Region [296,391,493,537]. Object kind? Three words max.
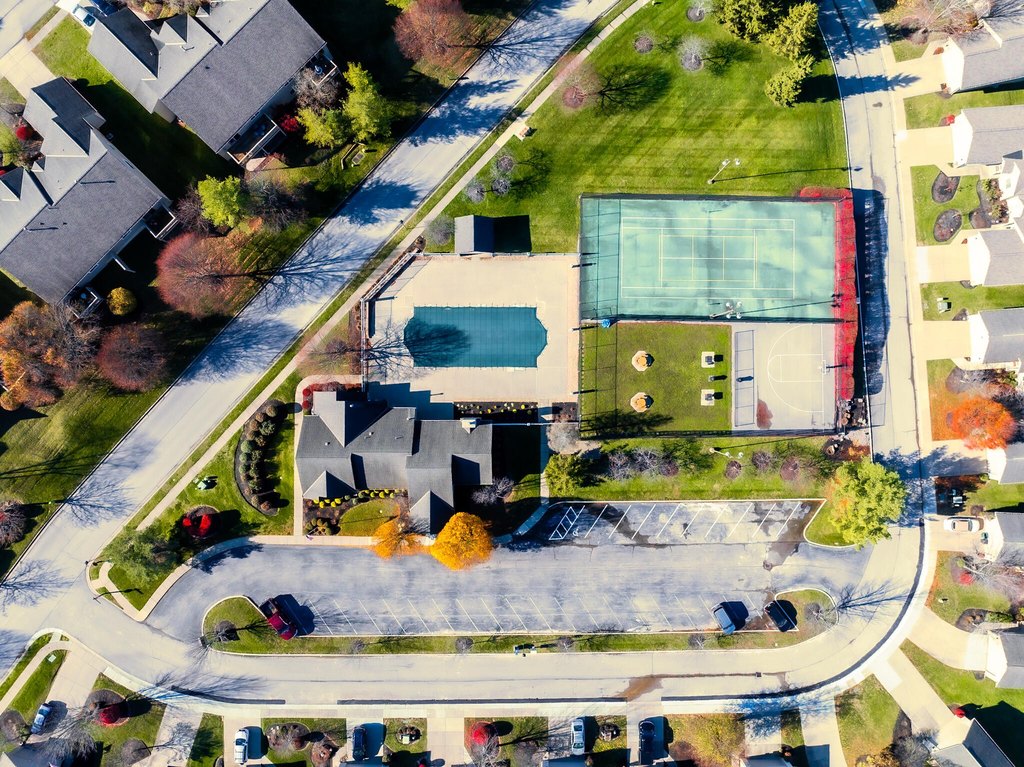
building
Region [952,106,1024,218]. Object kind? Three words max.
house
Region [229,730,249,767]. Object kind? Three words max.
car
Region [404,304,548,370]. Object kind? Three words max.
swimming pool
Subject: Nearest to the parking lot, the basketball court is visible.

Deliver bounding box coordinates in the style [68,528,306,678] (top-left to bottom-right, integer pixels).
[732,324,838,433]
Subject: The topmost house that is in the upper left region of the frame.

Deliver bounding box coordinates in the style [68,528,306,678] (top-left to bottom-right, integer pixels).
[92,0,342,170]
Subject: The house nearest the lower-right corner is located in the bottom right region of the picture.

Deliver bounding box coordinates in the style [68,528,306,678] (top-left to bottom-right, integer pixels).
[922,714,1010,767]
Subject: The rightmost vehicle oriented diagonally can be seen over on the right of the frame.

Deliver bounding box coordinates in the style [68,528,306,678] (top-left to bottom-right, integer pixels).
[764,602,794,635]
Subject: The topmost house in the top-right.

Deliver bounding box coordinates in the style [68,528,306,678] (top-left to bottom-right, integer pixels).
[939,9,1024,100]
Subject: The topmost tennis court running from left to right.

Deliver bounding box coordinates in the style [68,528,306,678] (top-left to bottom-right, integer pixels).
[582,201,838,320]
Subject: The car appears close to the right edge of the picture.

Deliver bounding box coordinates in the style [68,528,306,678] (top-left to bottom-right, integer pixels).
[943,517,982,535]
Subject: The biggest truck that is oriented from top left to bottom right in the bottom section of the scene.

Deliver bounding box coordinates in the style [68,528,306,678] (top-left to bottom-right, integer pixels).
[259,599,294,642]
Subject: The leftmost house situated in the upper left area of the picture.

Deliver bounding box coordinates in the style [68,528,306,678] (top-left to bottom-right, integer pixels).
[0,81,186,321]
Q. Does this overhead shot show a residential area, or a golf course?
residential area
